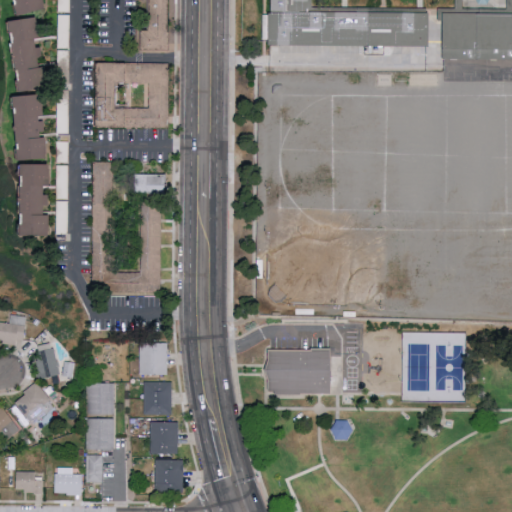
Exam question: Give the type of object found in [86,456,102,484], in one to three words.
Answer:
house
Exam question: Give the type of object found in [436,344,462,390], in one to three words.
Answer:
basketball court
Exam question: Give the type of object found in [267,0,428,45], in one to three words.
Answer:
building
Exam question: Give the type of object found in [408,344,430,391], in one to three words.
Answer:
tennis court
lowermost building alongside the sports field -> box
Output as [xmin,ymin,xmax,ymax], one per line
[264,348,330,395]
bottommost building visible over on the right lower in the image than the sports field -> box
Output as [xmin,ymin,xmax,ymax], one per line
[331,420,354,441]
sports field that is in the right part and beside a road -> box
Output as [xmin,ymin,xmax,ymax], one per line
[258,71,512,320]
